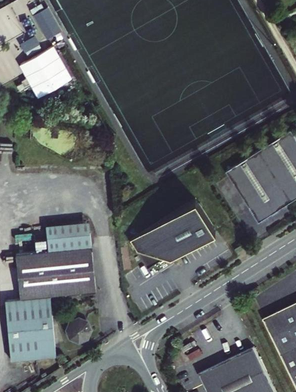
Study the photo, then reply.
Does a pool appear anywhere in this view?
No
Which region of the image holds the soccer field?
top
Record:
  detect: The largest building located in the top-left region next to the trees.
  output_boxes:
[20,46,75,98]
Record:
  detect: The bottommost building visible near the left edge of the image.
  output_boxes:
[6,298,58,362]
